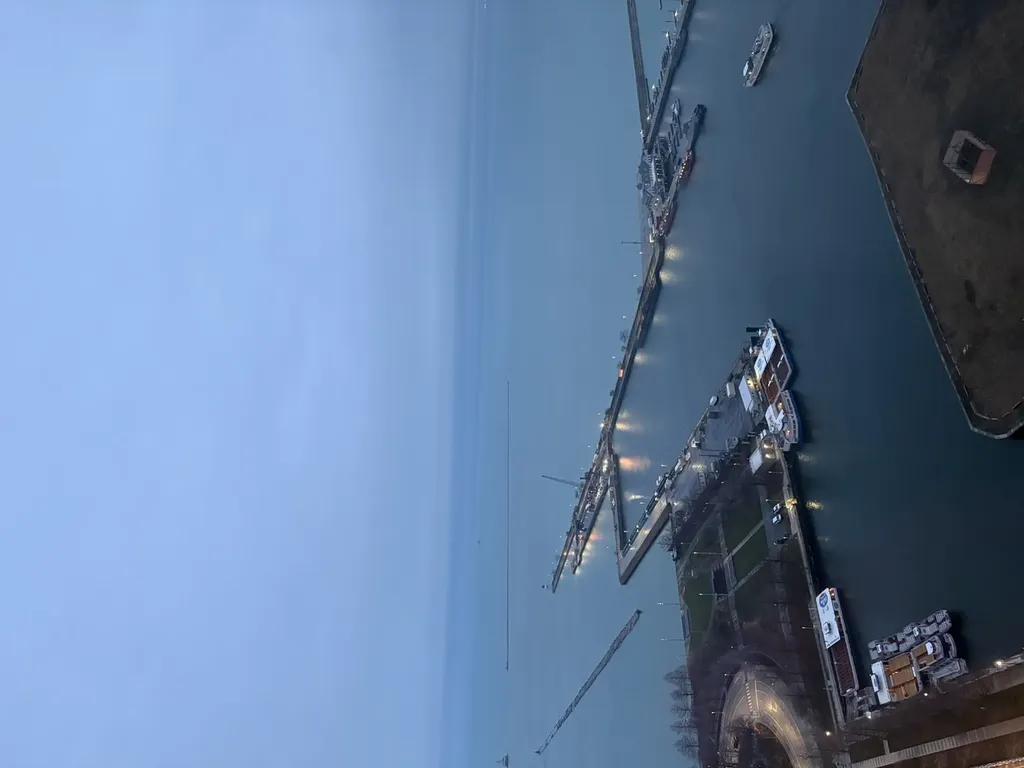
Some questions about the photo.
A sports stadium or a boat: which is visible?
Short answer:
boat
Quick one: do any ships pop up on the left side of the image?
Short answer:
No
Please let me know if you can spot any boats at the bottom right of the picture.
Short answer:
Yes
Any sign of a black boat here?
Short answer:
Yes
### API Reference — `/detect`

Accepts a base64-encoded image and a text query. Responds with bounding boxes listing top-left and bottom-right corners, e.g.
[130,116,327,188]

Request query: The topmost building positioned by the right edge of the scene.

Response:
[940,136,998,184]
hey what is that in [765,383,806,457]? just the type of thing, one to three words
boat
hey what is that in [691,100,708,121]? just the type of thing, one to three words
boat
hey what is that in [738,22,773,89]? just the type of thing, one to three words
ship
